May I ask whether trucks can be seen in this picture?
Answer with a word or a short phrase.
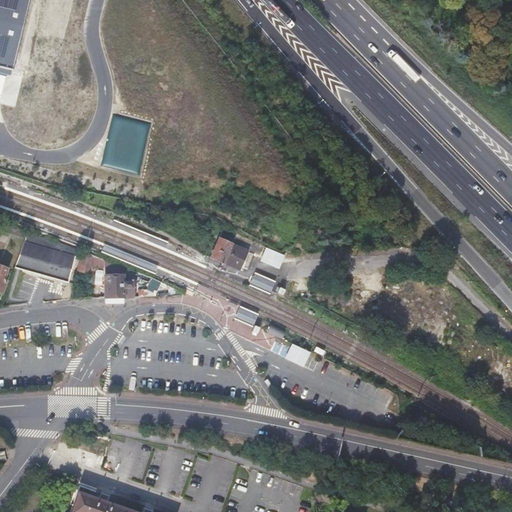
Yes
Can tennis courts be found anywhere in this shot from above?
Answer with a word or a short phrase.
No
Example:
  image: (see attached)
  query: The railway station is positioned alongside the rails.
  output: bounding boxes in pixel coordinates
[0,182,212,290]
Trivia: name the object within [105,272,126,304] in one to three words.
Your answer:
house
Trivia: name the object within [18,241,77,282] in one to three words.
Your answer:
building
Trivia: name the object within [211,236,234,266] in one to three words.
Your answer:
building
